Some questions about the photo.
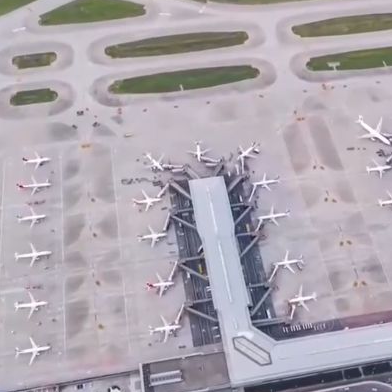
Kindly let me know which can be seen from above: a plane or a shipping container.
plane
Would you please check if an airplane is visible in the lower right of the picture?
Yes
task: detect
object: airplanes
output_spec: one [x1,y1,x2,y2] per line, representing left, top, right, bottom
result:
[355,114,389,143]
[137,190,161,211]
[139,226,167,248]
[369,158,391,177]
[16,334,50,364]
[238,143,258,158]
[16,241,52,266]
[144,153,164,170]
[18,175,51,195]
[151,314,180,342]
[24,150,50,168]
[16,291,48,317]
[17,206,47,228]
[146,271,175,297]
[275,249,302,272]
[289,284,316,311]
[253,171,280,191]
[260,203,288,225]
[187,143,210,162]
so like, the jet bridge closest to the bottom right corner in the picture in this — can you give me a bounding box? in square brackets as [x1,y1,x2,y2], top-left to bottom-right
[254,303,295,326]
